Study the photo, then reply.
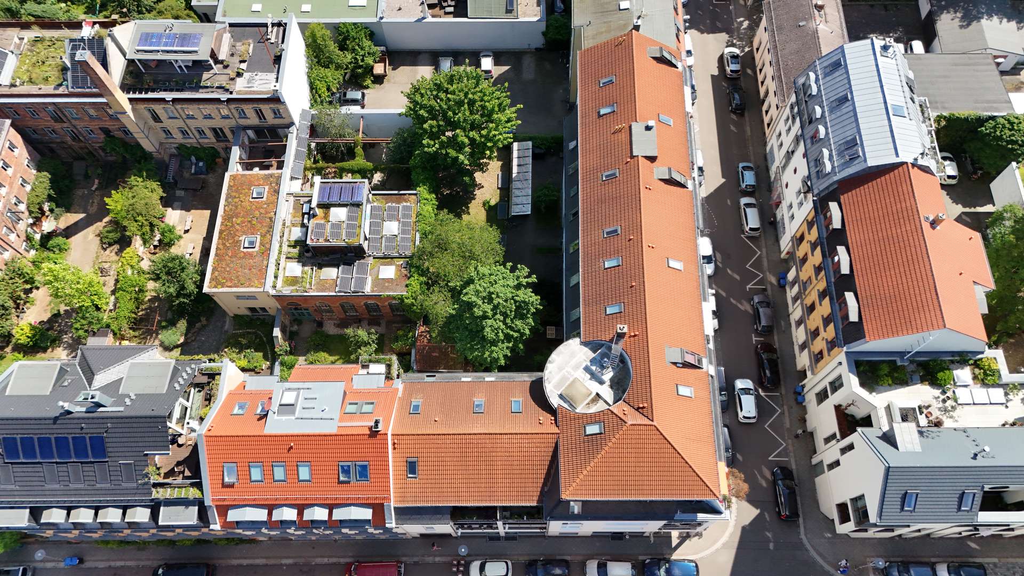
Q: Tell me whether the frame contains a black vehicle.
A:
Yes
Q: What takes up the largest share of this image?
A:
buildings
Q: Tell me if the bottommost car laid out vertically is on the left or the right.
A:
right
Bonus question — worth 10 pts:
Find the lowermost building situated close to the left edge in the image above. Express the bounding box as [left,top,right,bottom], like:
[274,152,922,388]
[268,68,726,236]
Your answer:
[0,350,242,538]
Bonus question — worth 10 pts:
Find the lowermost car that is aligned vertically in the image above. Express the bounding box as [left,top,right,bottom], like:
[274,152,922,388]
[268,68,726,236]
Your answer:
[769,465,800,523]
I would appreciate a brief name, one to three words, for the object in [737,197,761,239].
car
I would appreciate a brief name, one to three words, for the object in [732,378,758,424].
car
